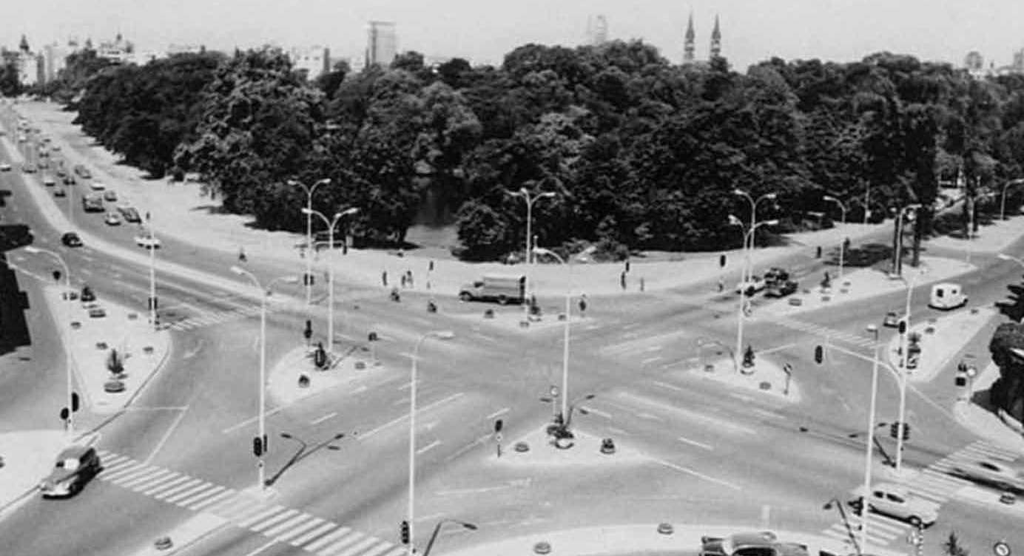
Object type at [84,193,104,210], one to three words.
vehicle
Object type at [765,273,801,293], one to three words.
car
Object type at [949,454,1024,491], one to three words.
car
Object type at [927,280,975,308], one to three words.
van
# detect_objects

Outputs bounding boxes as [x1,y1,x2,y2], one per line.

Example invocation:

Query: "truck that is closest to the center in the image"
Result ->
[456,274,532,305]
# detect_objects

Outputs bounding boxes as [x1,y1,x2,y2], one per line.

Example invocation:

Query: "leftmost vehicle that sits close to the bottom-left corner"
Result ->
[39,441,106,487]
